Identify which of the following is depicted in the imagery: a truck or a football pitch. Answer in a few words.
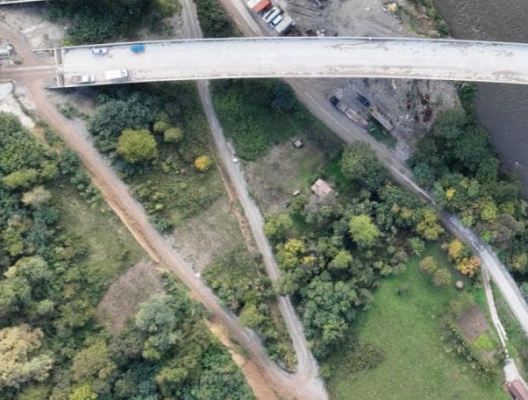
truck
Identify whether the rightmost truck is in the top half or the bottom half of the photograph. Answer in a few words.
top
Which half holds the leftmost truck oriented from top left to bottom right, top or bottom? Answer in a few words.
top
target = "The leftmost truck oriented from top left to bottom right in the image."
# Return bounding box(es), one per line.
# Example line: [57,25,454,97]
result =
[326,94,370,131]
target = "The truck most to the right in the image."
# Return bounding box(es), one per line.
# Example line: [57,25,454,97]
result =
[353,93,394,135]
